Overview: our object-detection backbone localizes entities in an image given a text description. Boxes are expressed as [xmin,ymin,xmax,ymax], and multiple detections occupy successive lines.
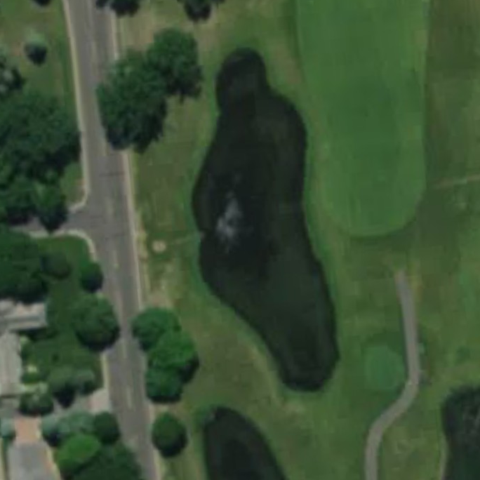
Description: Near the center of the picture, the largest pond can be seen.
[193,48,339,390]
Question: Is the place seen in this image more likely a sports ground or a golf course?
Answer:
golf course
